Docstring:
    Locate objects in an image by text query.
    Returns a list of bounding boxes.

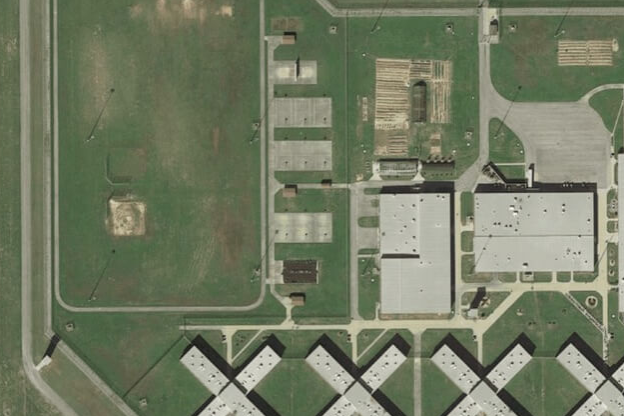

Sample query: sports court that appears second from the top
[273,97,332,127]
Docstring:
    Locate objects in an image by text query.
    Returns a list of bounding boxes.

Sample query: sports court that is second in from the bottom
[273,140,332,170]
